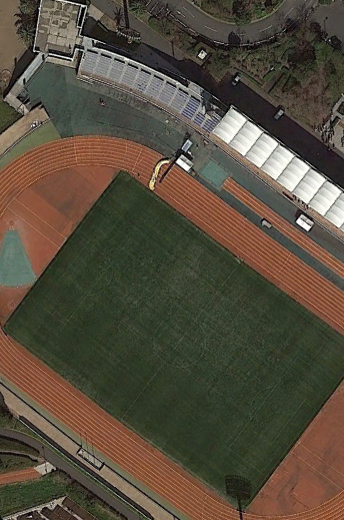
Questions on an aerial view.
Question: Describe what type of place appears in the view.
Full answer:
This image shows a sports ground.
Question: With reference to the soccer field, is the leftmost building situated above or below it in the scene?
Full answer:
You can see the leftmost building above the soccer field in the frame.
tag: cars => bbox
[275,109,285,120]
[231,74,242,86]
